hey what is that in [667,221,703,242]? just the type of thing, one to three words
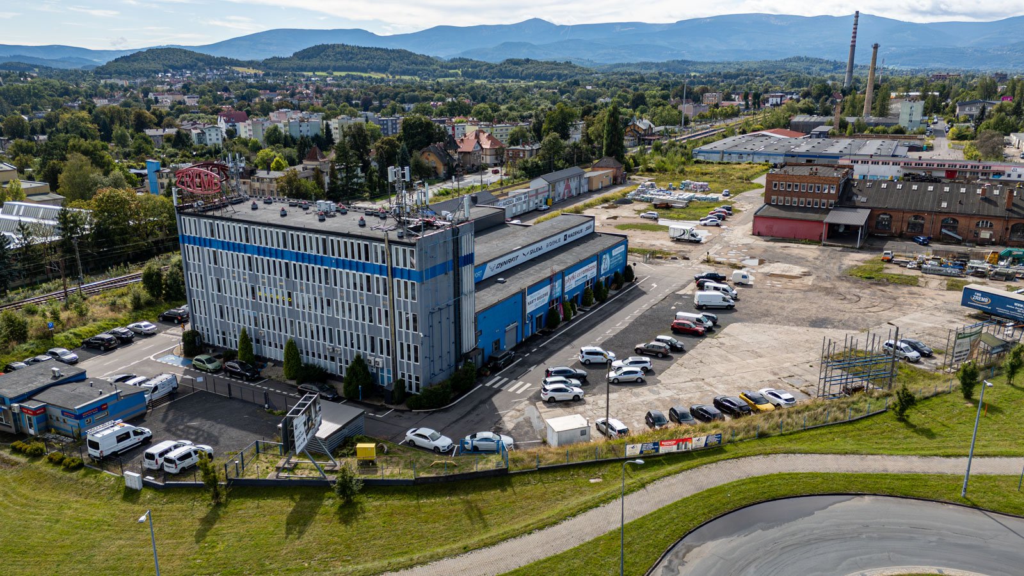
truck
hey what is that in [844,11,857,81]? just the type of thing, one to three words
chimney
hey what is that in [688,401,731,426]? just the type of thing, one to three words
car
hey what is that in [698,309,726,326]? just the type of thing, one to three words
car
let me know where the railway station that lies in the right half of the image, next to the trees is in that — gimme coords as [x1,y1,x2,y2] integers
[621,110,684,150]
